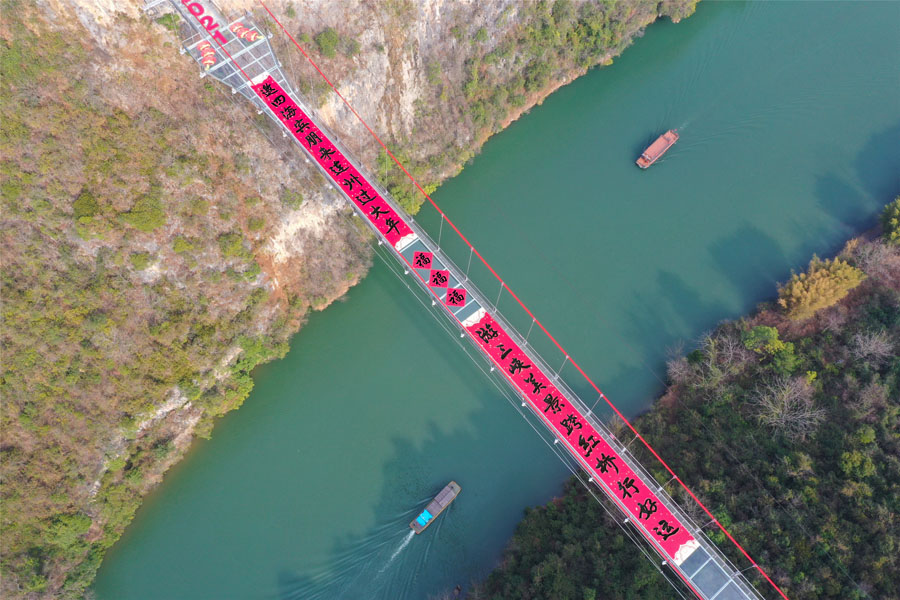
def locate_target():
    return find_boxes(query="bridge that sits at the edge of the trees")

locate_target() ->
[170,0,788,600]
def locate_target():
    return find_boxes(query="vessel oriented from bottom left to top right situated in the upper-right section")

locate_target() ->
[638,128,679,168]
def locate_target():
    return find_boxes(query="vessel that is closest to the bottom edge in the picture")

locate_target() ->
[410,481,461,534]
